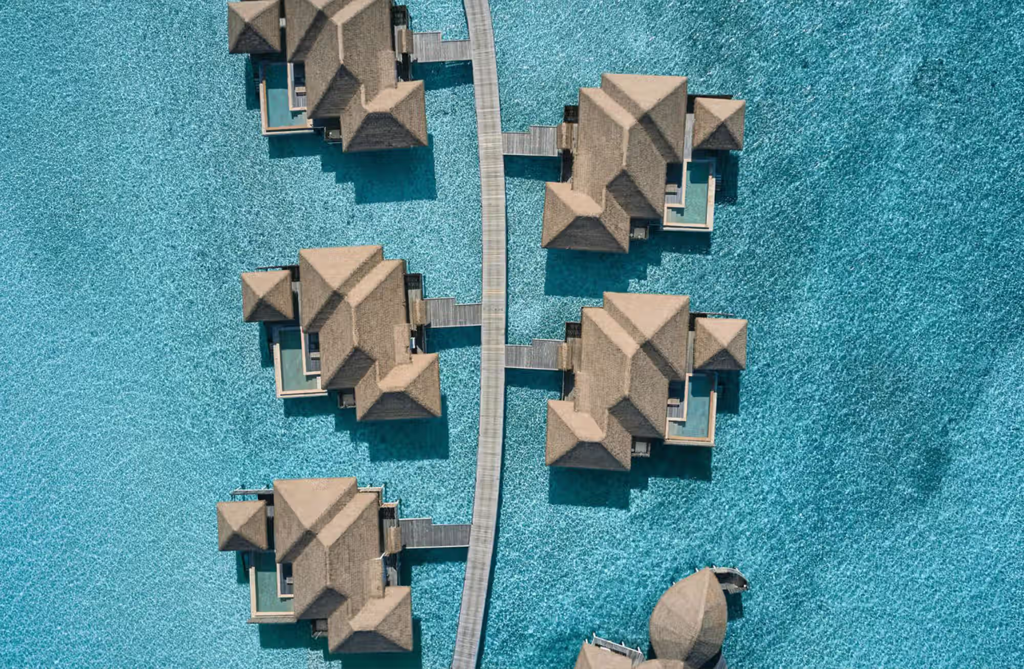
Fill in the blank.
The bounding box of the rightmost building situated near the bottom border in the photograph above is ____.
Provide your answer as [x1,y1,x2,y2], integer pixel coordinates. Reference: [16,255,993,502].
[649,564,750,669]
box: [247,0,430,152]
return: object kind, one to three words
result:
house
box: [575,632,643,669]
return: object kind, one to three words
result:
building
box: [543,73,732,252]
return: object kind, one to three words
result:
house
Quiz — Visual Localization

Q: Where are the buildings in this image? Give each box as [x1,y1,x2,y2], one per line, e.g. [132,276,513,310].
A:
[254,244,443,422]
[575,632,643,669]
[649,564,750,669]
[229,477,413,653]
[546,293,734,470]
[247,0,430,152]
[543,73,732,252]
